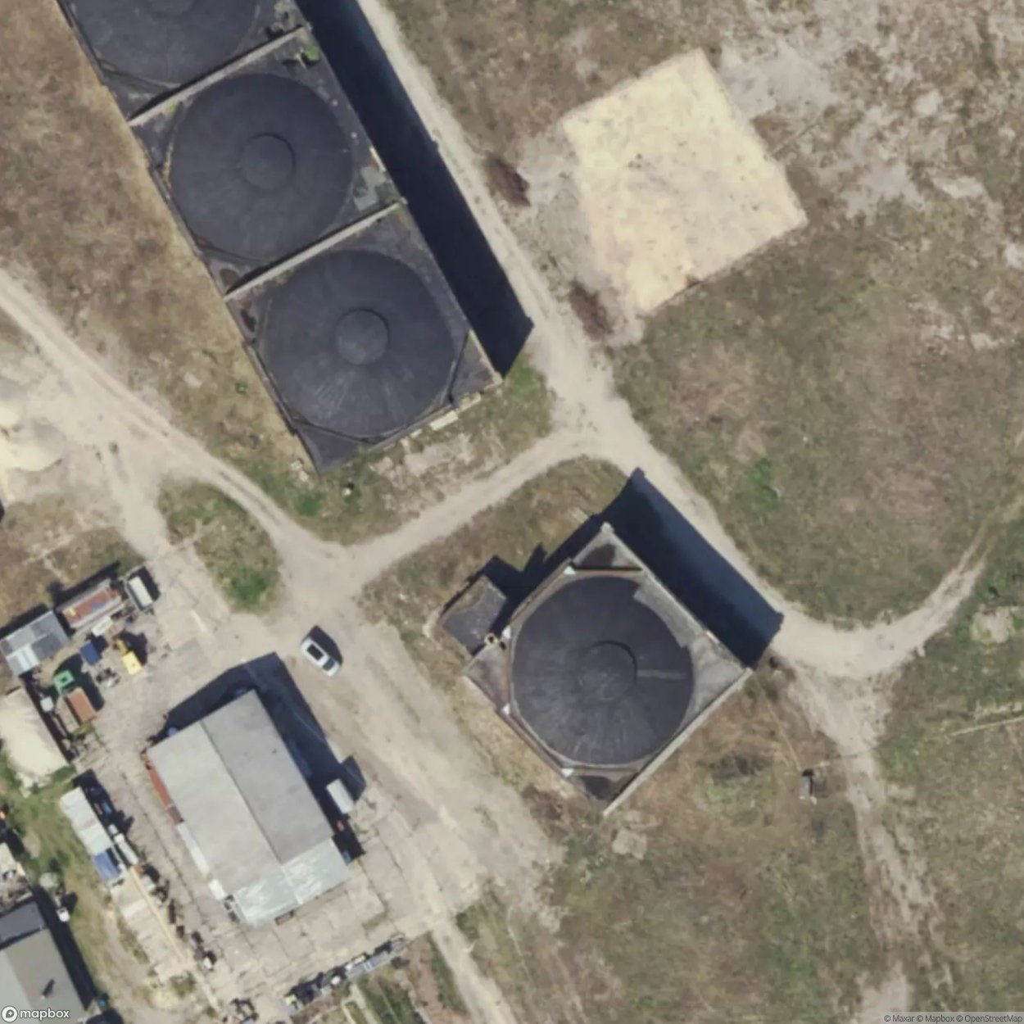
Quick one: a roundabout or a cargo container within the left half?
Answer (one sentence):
What appears within the left half is a cargo container.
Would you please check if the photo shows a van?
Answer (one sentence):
Yes, the picture does show a van.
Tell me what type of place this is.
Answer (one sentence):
This looks like an industrial area.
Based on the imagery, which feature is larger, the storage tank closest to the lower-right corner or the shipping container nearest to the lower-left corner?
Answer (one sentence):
Of the two, the storage tank is larger and the shipping container is the smaller one.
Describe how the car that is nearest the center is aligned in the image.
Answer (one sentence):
In this picture, the car that is nearest the center lies at an angle.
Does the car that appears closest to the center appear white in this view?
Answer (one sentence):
Yes, the car that appears closest to the center is indeed white.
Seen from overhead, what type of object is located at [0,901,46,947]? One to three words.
building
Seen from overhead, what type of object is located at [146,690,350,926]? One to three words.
warehouse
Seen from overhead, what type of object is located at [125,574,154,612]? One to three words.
van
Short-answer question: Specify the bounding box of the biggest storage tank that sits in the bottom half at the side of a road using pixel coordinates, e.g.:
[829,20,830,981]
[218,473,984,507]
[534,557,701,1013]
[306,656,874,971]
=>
[461,525,752,815]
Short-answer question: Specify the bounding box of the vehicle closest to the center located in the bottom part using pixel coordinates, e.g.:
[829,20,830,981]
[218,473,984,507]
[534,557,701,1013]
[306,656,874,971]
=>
[301,638,339,674]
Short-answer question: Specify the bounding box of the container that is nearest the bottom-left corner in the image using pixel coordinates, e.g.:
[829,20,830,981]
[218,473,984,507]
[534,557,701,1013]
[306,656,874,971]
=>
[68,687,96,723]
